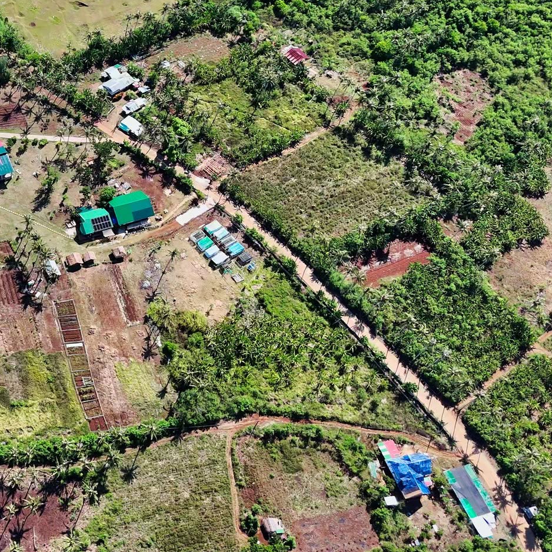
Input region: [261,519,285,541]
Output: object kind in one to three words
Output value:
shed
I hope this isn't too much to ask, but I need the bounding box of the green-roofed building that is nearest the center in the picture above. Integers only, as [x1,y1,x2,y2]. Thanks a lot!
[107,192,154,233]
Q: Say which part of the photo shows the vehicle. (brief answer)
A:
bottom right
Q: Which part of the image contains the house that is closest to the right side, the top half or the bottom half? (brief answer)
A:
bottom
